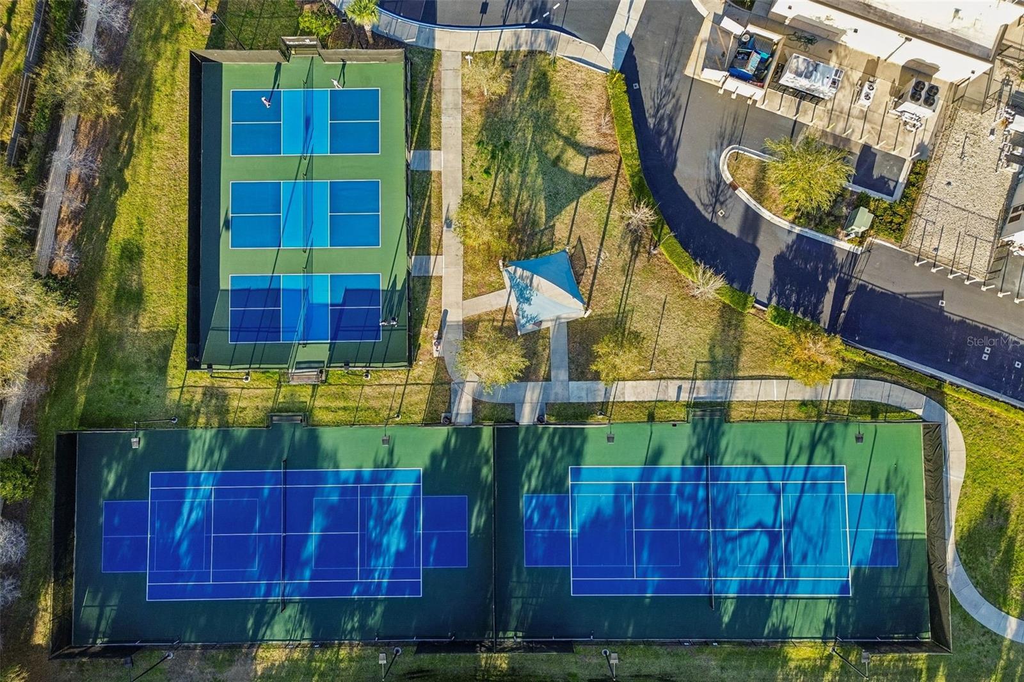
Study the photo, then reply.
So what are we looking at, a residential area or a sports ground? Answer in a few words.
sports ground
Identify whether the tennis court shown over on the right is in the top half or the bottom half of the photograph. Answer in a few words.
bottom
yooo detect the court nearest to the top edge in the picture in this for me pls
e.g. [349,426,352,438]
[203,56,406,167]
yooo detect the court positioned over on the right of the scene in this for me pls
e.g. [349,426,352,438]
[494,410,929,640]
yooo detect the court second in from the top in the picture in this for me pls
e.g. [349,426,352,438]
[203,166,407,262]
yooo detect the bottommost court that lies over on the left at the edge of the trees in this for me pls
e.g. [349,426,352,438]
[74,415,494,643]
